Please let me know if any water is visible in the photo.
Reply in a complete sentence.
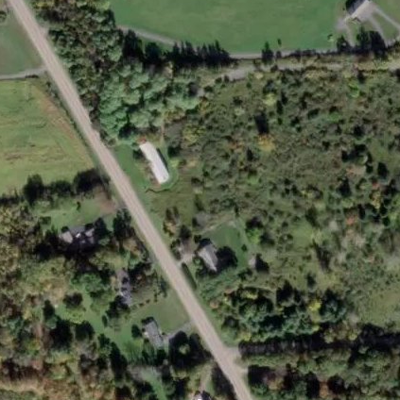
No, there is no water in the image.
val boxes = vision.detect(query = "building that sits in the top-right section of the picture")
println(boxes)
[345,0,372,19]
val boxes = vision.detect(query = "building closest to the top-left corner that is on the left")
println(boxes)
[140,141,170,184]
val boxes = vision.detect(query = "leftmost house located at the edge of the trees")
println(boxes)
[57,226,95,248]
